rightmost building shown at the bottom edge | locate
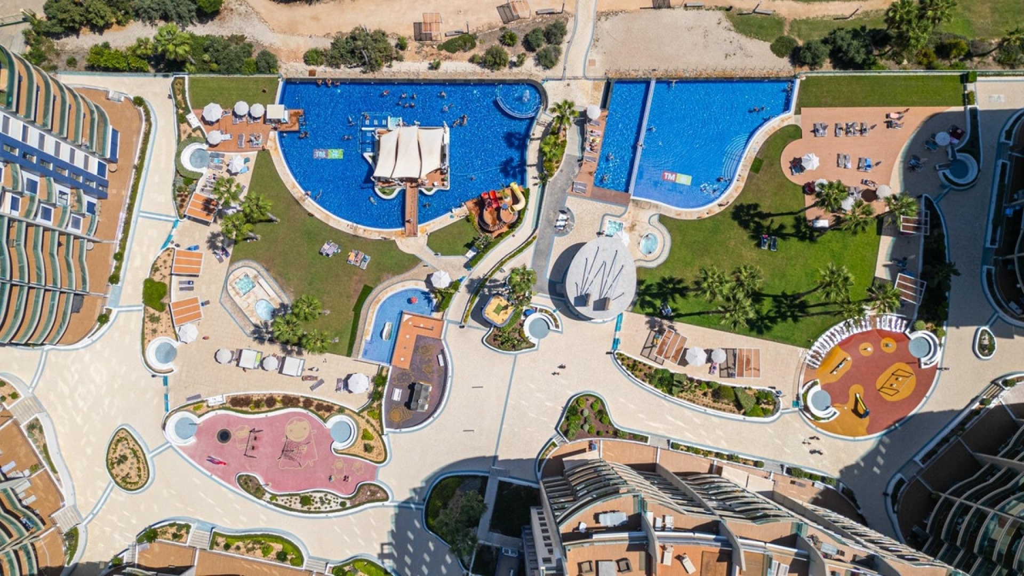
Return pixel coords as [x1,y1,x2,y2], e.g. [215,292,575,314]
[917,419,1024,576]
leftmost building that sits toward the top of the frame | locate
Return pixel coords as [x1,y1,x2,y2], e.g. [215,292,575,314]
[0,48,119,345]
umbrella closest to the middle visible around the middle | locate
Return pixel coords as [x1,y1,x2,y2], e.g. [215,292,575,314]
[431,269,451,289]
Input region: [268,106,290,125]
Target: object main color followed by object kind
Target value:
white tent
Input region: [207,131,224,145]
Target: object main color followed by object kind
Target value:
white umbrella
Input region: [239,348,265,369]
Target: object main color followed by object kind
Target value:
white tent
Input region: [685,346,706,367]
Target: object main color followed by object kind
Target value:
white umbrella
